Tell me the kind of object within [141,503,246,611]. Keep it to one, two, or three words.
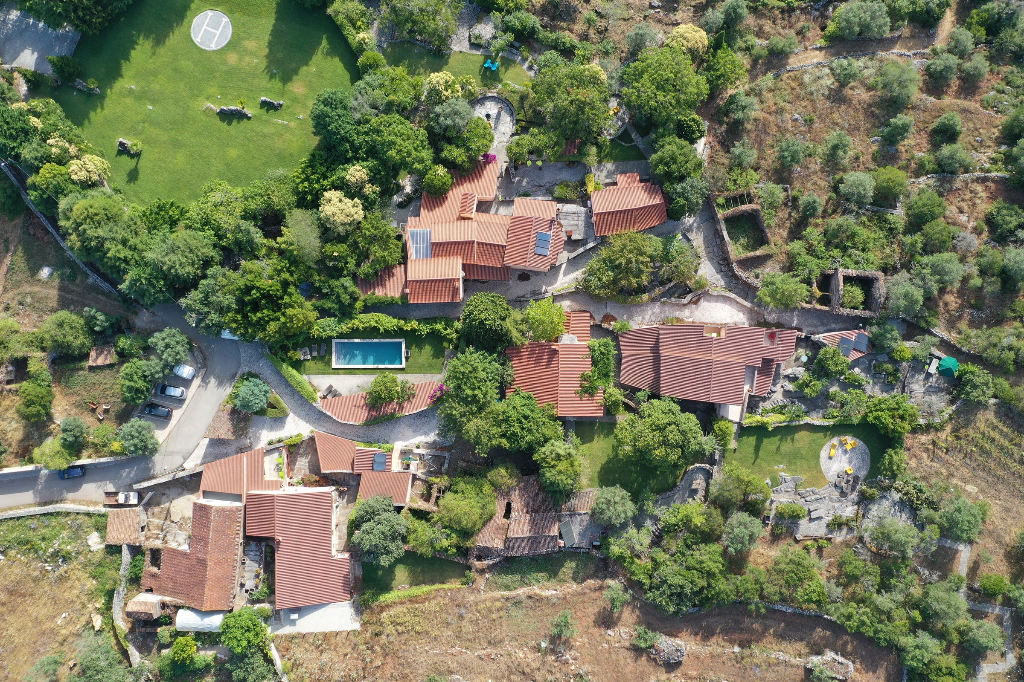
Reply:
barn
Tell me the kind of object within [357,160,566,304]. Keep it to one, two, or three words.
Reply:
house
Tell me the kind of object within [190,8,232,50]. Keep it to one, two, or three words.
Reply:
helipad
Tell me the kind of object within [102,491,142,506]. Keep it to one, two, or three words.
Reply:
vehicle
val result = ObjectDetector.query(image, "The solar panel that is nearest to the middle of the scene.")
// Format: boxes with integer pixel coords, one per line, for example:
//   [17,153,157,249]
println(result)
[534,232,551,256]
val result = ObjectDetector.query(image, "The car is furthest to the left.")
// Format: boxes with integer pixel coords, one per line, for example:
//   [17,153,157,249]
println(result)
[58,466,87,481]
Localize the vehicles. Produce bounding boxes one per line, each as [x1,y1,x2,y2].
[58,466,87,481]
[144,402,175,420]
[156,383,189,400]
[102,491,142,506]
[168,363,199,379]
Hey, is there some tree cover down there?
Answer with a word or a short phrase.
Yes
